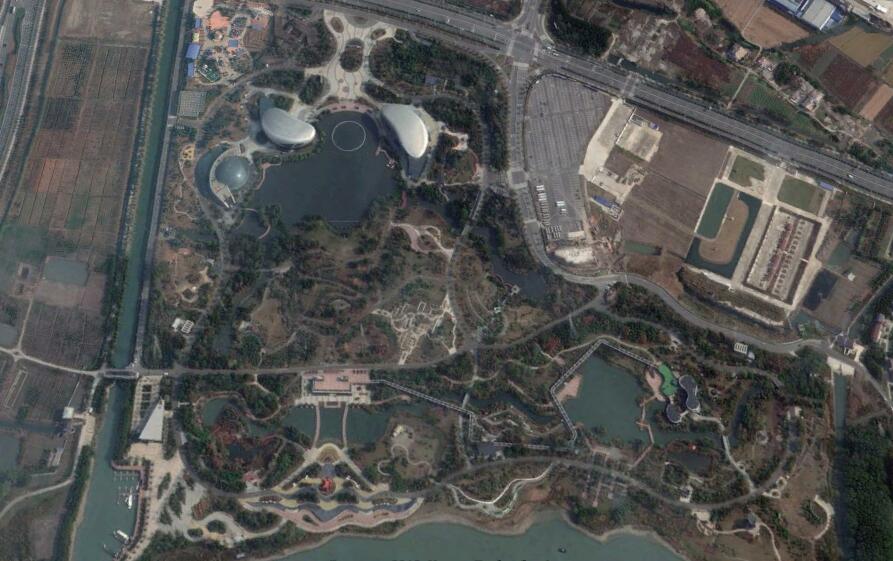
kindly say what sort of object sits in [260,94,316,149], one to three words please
building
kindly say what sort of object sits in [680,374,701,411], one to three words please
building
